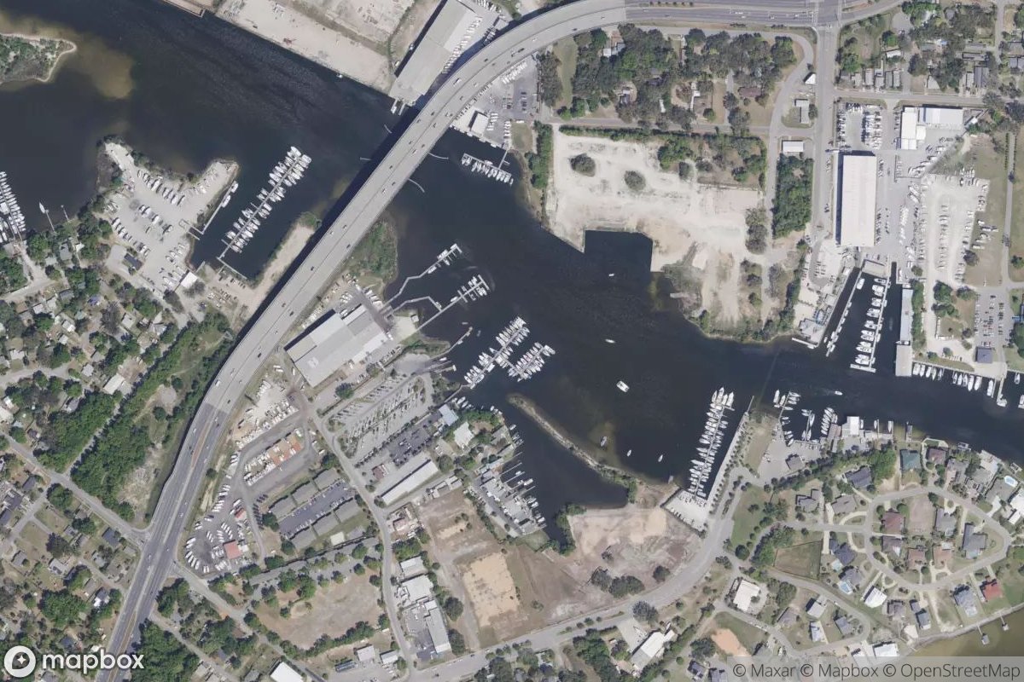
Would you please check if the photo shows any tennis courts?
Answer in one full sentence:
No, the picture doesn't show any tennis court.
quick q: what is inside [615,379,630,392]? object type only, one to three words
boat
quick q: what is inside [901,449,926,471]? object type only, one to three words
house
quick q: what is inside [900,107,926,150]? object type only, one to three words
building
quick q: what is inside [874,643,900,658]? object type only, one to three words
shed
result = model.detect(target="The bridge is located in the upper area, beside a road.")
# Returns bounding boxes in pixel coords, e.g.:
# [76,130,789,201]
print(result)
[202,0,631,415]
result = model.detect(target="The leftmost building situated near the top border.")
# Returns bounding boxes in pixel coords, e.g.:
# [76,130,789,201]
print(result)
[390,0,475,104]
